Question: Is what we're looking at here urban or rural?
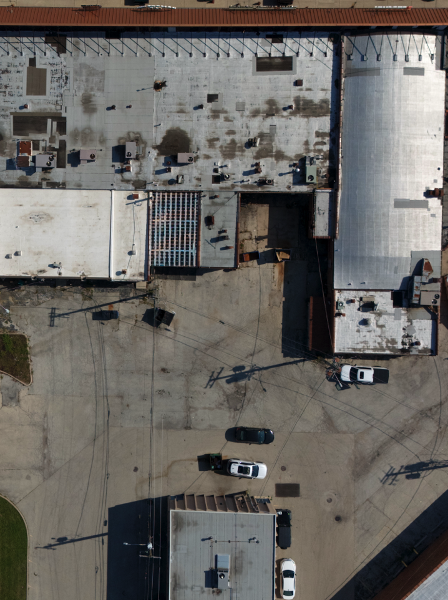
urban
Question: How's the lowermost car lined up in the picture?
vertically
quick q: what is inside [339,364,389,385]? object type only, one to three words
vehicle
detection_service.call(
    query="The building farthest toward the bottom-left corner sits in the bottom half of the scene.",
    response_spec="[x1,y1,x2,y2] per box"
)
[166,490,279,600]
